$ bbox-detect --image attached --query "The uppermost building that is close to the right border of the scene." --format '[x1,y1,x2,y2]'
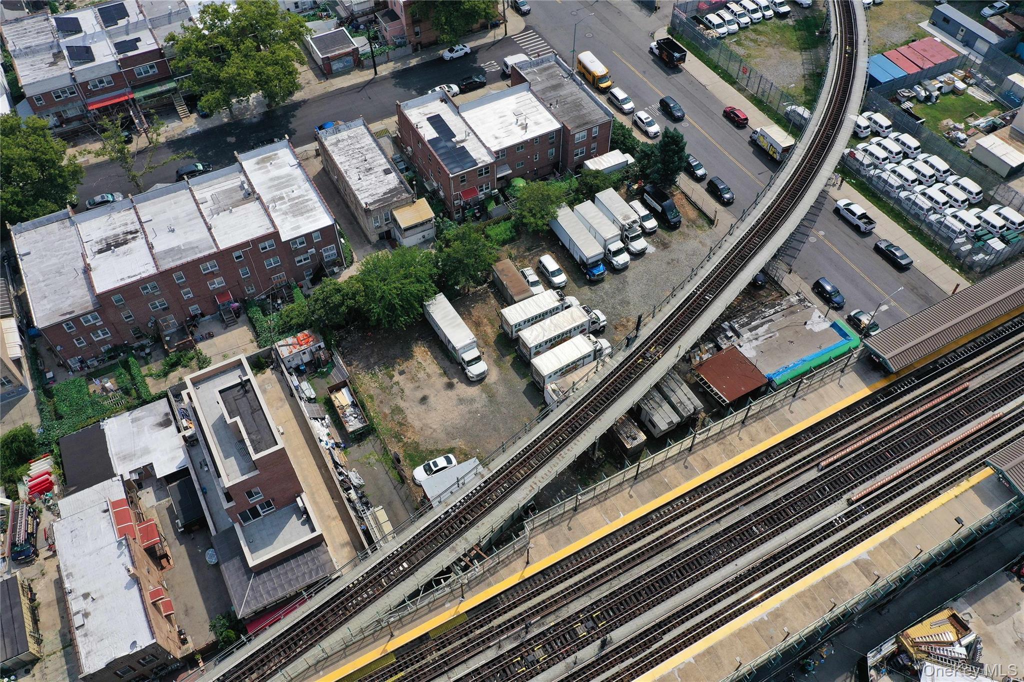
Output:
[928,3,1003,58]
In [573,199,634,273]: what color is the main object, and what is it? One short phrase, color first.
white truck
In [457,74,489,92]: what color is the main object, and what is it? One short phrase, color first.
black car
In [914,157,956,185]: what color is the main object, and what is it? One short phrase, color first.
white van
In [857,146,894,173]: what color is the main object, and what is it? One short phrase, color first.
white vehicle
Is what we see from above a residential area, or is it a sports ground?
residential area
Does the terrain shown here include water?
No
